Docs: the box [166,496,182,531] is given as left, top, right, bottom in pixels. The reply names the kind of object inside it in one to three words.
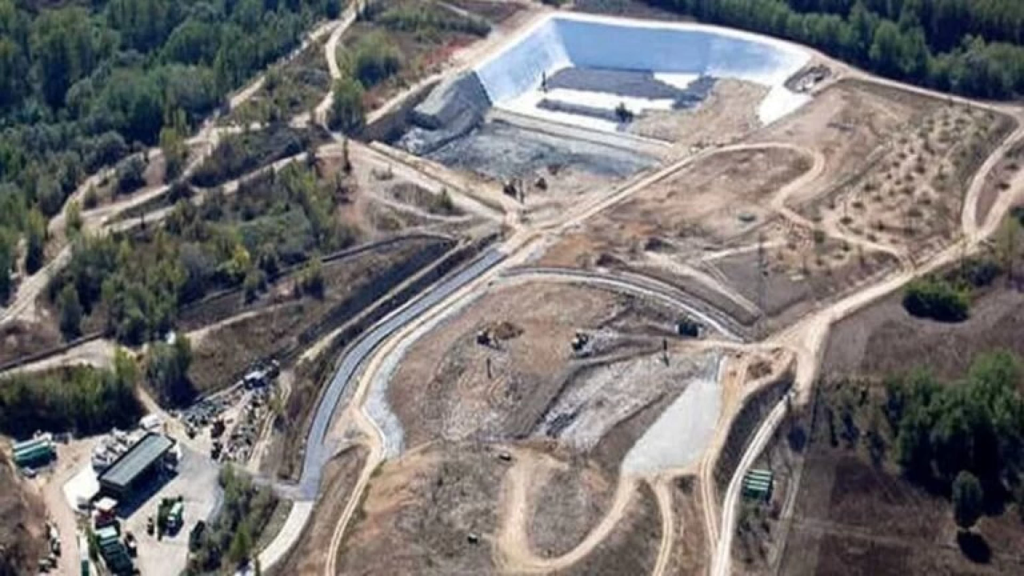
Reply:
vehicle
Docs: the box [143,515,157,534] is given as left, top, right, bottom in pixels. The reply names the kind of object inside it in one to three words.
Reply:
work vehicle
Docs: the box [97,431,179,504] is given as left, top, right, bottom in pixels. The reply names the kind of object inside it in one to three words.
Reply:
shed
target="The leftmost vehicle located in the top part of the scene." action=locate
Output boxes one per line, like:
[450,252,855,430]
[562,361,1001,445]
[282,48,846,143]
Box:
[530,178,550,190]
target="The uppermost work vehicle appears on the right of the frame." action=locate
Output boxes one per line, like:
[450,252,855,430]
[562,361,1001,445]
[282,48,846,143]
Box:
[617,103,632,121]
